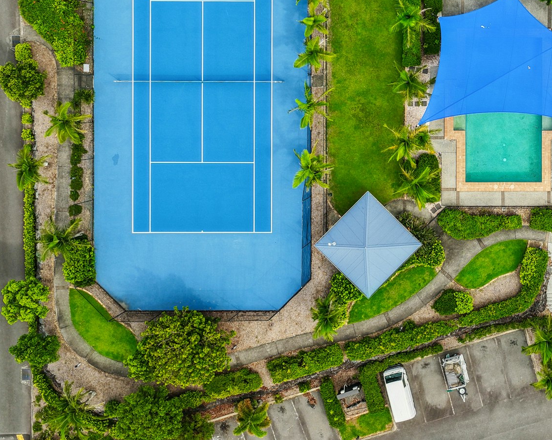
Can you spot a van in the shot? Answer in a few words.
Yes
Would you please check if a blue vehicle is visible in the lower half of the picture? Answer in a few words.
No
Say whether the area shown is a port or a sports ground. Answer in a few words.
sports ground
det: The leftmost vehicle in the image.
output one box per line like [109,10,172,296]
[381,360,415,429]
